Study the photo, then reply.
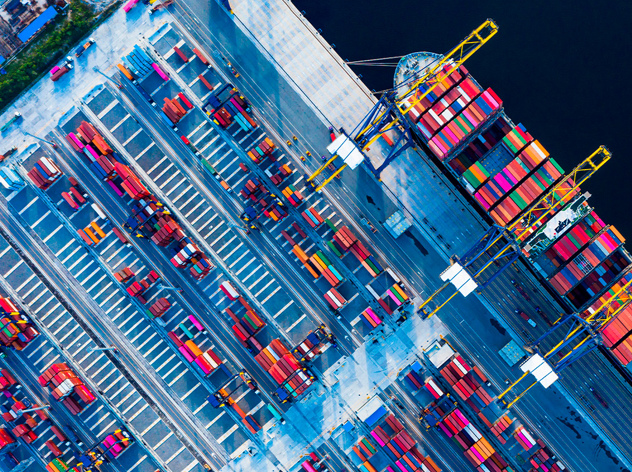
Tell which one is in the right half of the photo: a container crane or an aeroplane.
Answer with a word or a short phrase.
container crane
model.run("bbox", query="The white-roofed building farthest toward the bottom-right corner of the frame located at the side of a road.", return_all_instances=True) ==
[425,341,454,366]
